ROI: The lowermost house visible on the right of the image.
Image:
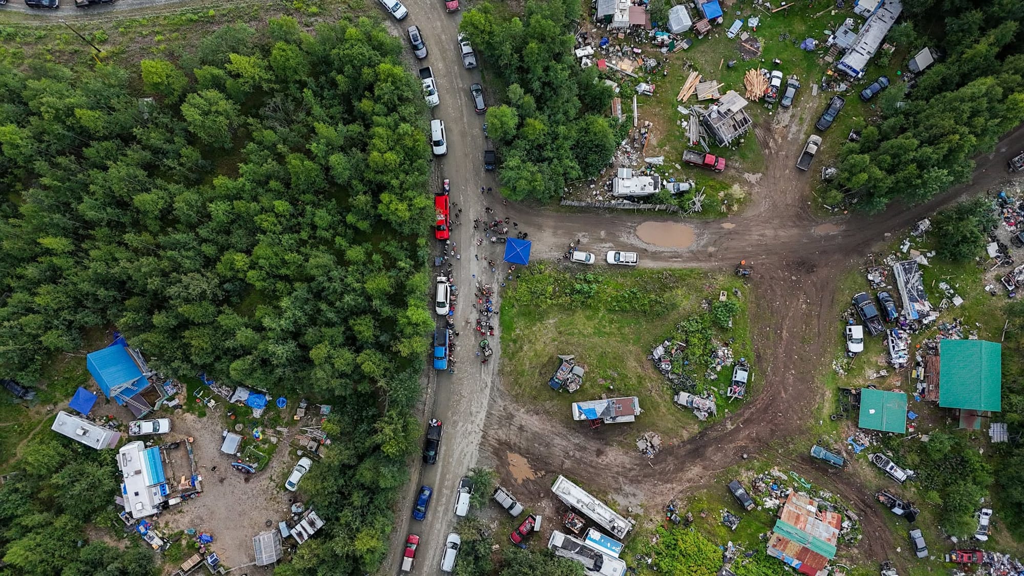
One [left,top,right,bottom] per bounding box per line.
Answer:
[766,491,841,576]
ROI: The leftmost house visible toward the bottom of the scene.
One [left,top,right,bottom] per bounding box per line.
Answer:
[82,342,159,404]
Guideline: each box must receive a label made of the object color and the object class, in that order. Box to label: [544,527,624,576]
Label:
white camper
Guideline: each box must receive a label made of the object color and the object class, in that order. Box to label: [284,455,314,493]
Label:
white car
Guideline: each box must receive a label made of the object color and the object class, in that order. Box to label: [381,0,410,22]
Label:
white car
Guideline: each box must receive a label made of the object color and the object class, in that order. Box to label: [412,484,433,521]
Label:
blue car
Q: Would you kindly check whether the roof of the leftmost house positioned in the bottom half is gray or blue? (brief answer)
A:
blue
